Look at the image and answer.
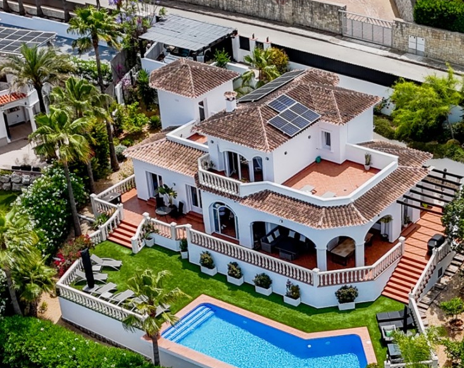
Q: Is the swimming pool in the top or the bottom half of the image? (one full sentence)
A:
The swimming pool is in the bottom half of the image.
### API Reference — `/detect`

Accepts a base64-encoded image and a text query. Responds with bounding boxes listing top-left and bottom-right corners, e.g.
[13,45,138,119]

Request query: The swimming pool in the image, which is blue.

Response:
[141,293,380,368]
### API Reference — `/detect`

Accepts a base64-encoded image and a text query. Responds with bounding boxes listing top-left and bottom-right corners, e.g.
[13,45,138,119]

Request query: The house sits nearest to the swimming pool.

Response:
[123,65,462,272]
